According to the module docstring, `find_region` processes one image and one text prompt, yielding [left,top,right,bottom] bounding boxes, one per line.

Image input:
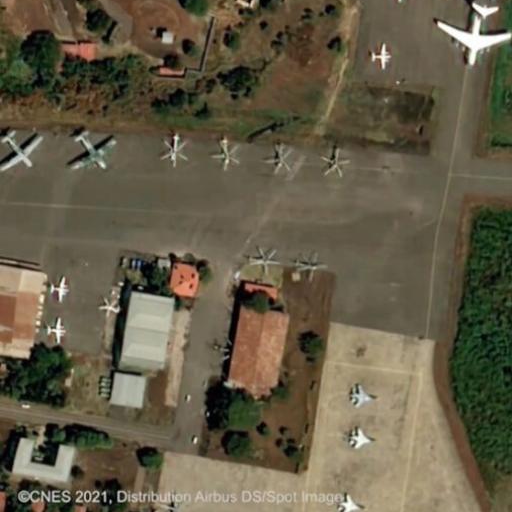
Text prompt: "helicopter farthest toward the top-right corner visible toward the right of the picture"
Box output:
[322,144,351,177]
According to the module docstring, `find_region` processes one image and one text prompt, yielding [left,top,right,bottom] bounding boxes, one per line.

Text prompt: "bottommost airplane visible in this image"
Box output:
[338,494,369,512]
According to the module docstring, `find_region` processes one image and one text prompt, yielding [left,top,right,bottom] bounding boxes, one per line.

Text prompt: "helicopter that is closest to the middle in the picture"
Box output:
[245,247,280,277]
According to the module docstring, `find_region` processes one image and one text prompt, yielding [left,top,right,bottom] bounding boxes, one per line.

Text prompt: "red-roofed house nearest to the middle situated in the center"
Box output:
[243,282,278,301]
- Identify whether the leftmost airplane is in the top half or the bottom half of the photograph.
top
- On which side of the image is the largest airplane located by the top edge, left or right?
right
